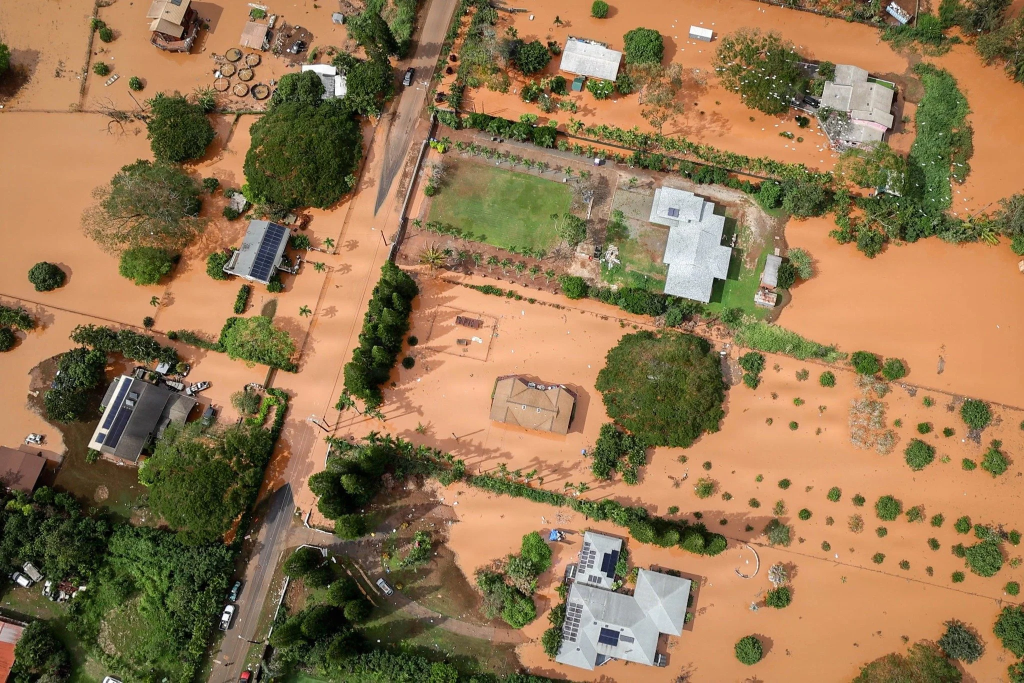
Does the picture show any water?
Yes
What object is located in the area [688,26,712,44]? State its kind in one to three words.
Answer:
shed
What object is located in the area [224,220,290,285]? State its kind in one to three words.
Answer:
house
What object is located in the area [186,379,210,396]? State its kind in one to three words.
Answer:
vehicle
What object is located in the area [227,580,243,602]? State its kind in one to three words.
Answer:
car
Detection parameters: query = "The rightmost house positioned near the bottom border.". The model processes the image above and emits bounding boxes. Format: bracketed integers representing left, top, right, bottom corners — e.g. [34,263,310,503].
[556,531,692,671]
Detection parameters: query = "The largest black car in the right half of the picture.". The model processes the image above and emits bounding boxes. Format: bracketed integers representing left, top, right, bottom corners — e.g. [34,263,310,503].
[803,95,822,107]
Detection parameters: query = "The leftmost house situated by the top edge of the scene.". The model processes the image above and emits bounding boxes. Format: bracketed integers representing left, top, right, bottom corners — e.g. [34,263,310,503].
[147,0,204,58]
